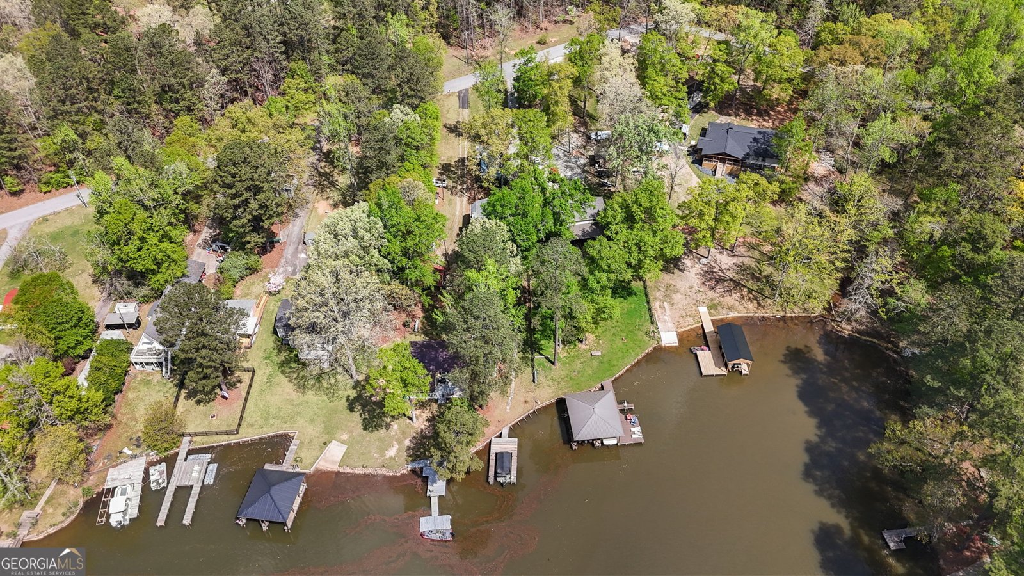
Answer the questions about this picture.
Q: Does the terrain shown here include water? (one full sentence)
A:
Yes, there's water in this view.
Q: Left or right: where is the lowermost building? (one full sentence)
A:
You can find the lowermost building on the left side of the picture.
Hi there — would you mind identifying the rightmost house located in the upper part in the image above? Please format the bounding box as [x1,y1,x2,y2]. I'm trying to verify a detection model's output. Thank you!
[700,119,778,183]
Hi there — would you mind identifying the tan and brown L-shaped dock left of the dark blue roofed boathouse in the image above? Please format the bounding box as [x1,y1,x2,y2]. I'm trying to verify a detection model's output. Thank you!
[695,321,728,378]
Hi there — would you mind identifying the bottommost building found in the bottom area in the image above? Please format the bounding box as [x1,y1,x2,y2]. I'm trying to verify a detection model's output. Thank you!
[237,469,310,540]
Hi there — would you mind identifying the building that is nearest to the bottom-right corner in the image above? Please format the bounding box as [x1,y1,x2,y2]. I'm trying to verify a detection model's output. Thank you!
[712,322,754,376]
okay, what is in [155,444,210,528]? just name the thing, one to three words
pier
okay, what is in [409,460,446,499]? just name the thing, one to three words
pier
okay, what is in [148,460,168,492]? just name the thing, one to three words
boat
